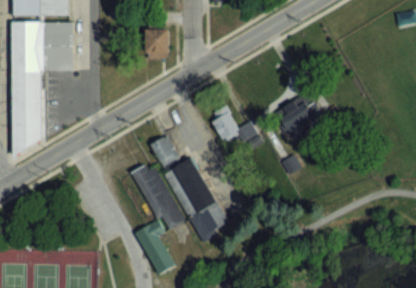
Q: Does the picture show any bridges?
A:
No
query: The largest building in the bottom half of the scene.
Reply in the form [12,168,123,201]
[166,159,227,240]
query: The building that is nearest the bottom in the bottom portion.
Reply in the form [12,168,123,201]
[133,219,175,275]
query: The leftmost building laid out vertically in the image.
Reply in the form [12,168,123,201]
[10,20,44,156]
